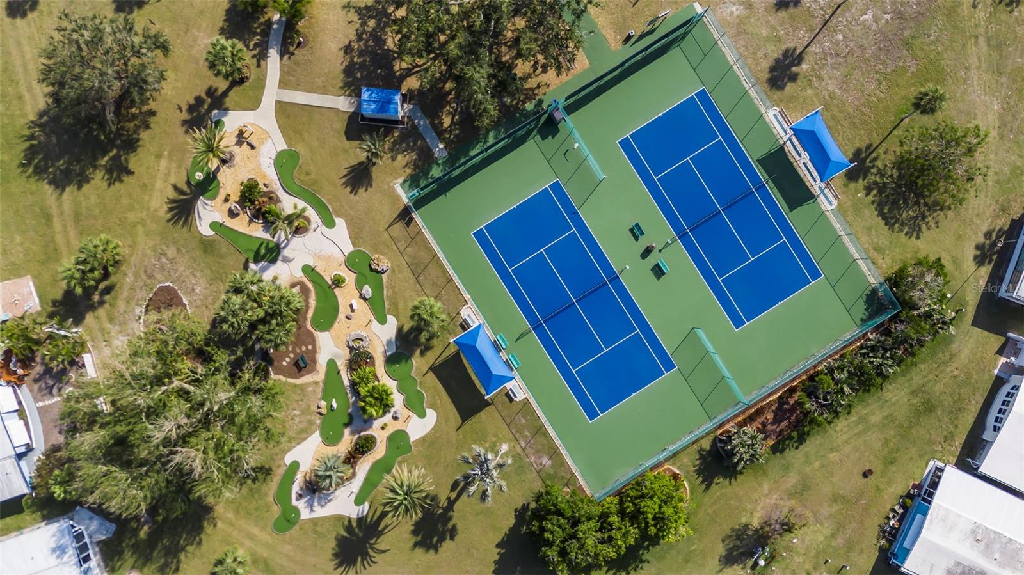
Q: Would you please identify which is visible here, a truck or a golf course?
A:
golf course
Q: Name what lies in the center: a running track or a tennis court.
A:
tennis court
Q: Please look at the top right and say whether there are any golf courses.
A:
No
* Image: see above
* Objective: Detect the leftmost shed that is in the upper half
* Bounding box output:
[360,87,421,126]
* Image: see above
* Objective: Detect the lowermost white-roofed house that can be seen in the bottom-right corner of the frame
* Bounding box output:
[891,456,1024,575]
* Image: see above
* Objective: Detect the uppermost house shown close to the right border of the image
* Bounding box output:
[990,221,1024,305]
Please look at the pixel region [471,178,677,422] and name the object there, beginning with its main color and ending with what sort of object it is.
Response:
blue tennis court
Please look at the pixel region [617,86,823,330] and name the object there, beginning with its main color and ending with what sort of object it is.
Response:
blue tennis court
